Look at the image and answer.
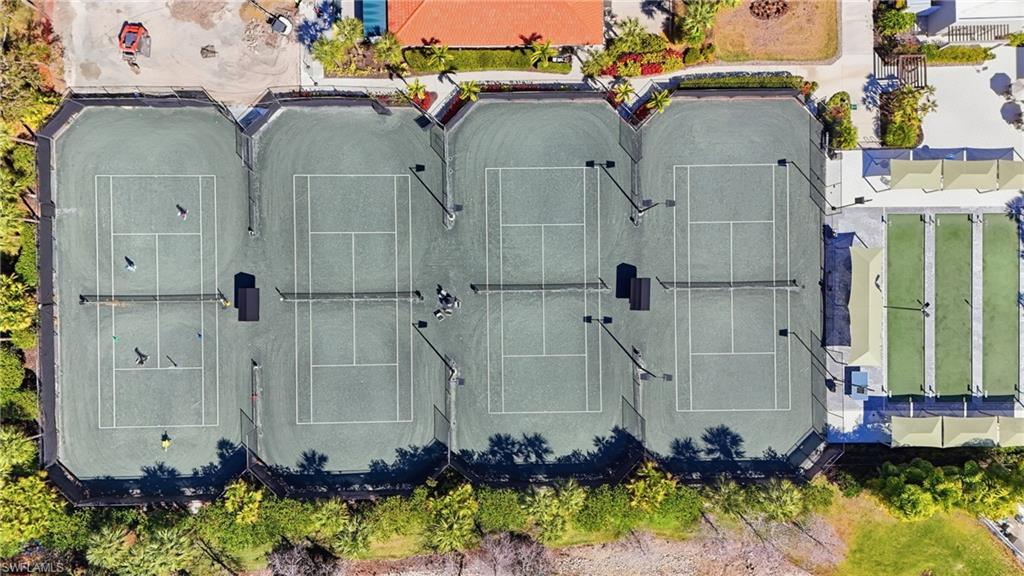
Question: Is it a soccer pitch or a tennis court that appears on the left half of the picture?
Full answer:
Visible on the left half of the picture is a tennis court.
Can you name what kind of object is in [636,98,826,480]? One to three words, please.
tennis court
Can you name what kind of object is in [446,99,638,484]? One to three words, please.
tennis court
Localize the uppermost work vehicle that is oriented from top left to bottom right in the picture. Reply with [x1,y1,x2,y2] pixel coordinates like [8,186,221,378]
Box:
[243,5,300,43]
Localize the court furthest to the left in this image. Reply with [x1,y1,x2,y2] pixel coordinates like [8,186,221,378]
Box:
[53,105,257,497]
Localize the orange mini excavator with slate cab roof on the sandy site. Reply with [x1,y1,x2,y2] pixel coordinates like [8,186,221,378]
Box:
[121,22,154,78]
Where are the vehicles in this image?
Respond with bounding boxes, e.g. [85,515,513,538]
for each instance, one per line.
[243,5,300,43]
[121,22,154,78]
